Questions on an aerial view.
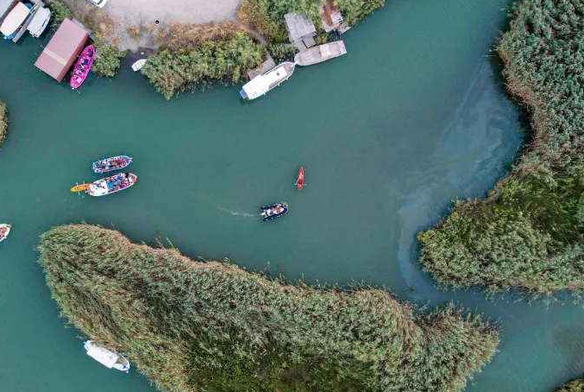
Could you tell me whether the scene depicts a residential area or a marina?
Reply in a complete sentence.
This image shows a marina.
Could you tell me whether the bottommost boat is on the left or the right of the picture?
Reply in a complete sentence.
It is on the left.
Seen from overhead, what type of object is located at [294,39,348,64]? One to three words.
boat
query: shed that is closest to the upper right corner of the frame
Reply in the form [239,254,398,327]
[319,0,343,33]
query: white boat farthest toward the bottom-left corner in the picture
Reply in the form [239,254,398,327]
[84,340,129,369]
